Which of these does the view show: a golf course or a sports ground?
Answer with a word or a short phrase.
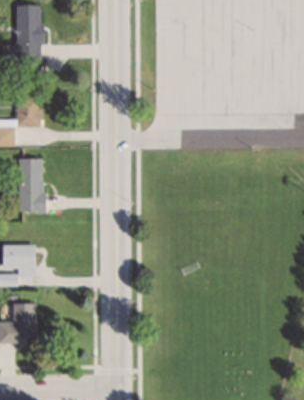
sports ground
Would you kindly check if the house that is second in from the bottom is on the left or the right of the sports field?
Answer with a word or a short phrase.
on the left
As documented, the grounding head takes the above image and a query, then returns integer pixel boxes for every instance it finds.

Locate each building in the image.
[14,5,44,61]
[0,90,44,147]
[0,244,36,288]
[0,304,36,355]
[18,159,46,214]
